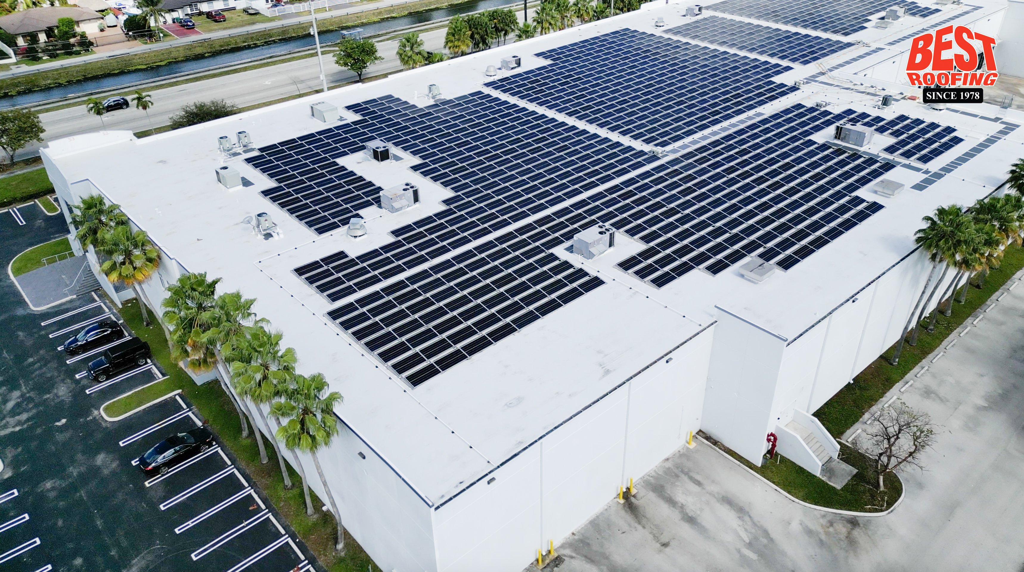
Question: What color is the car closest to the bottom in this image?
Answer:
black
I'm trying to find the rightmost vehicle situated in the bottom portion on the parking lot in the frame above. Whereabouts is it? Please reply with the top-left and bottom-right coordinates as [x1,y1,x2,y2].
[137,430,211,475]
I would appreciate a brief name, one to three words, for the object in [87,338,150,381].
car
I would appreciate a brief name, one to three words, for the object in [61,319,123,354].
car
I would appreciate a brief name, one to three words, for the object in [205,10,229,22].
vehicle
